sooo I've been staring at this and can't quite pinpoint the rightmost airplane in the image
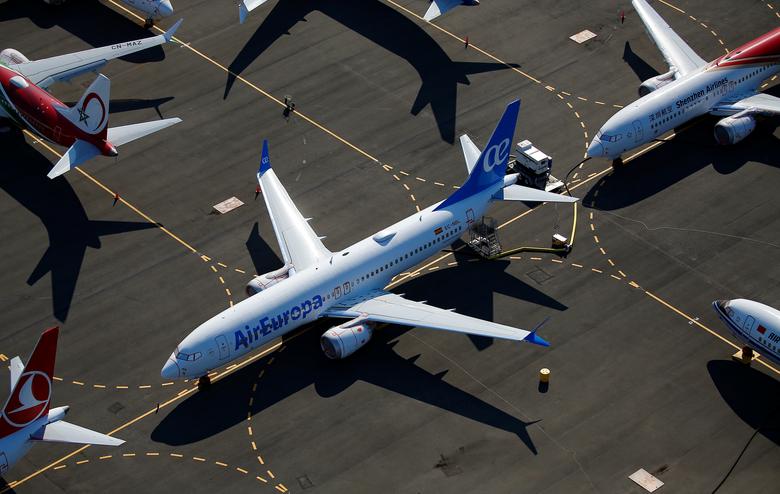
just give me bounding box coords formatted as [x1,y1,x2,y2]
[711,300,780,368]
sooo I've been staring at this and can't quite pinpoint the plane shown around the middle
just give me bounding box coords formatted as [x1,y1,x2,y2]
[161,99,580,385]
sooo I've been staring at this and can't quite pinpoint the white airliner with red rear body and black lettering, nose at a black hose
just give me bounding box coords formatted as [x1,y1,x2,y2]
[585,0,780,168]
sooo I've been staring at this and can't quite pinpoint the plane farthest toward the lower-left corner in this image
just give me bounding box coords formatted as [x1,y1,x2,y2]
[0,328,126,473]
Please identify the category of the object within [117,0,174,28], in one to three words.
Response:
airplane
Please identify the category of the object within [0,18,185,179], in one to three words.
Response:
airplane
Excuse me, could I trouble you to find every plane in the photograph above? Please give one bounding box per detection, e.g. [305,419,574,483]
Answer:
[161,99,580,385]
[585,0,780,168]
[0,328,126,473]
[117,0,174,28]
[0,18,185,179]
[711,300,780,368]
